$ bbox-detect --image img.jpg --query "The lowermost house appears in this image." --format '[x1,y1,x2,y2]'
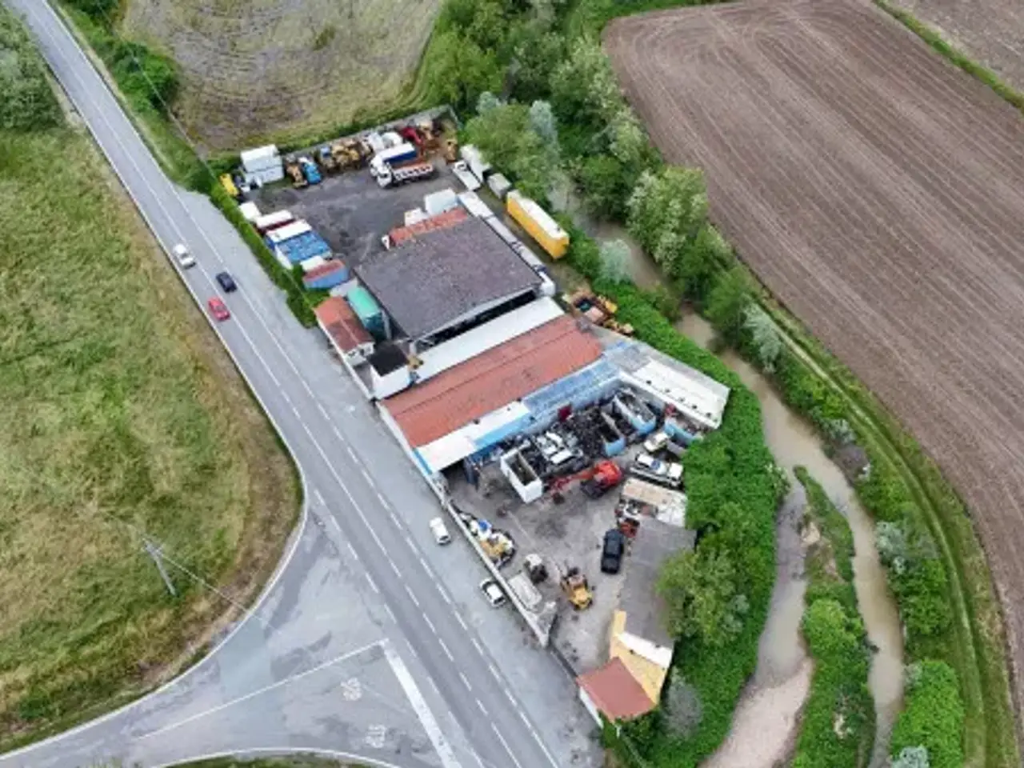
[576,609,674,725]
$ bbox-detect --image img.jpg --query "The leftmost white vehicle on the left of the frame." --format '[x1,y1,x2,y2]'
[172,246,195,270]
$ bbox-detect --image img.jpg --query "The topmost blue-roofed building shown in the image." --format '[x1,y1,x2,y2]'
[276,233,328,277]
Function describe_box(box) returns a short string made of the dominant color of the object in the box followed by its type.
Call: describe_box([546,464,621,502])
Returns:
red work vehicle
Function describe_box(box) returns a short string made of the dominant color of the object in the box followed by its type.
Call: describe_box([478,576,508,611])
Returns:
white car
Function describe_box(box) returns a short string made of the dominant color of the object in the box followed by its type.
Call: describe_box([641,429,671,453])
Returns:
white car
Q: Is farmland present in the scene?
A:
Yes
